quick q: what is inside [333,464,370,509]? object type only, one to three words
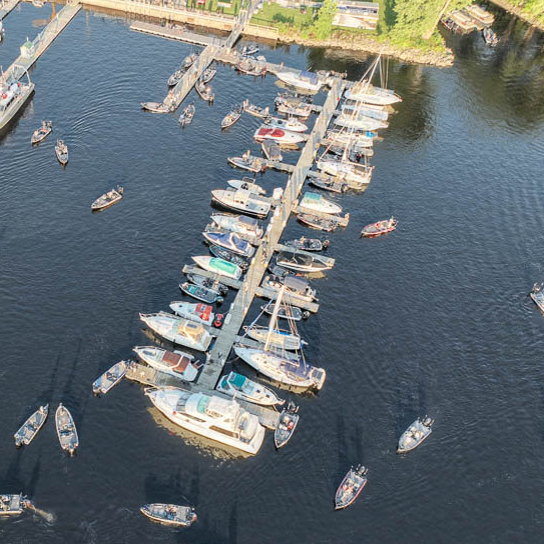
boat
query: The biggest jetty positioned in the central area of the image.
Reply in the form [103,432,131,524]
[157,78,372,381]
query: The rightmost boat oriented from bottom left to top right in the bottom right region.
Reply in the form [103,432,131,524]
[395,414,431,454]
